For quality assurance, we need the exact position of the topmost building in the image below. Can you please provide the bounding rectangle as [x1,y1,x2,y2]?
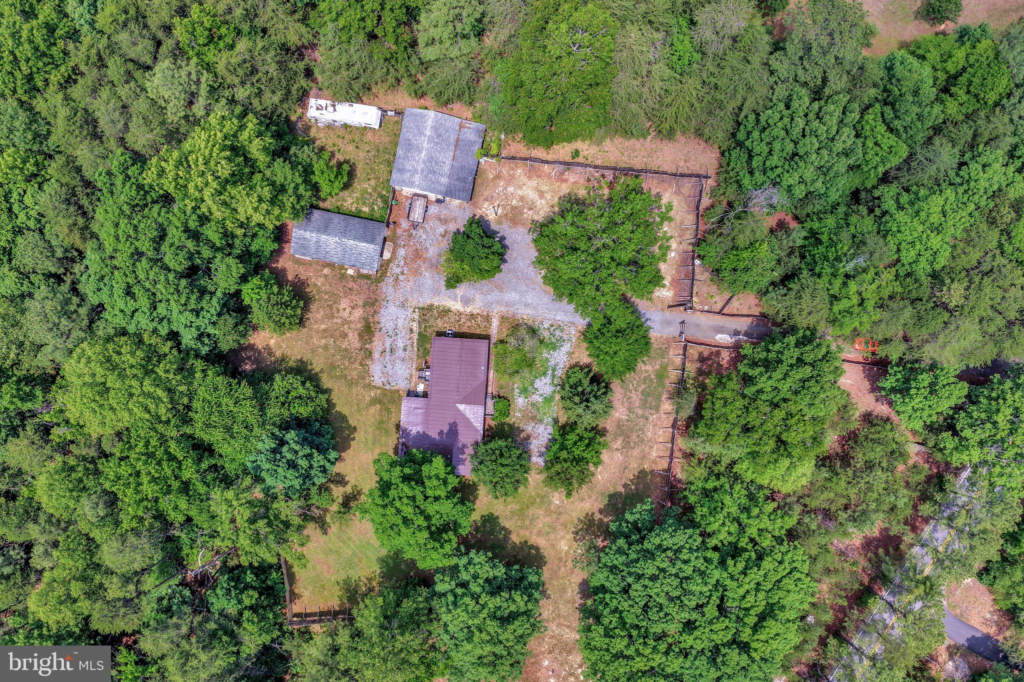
[390,109,486,203]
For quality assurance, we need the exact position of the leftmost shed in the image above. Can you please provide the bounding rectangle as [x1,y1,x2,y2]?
[291,208,392,270]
